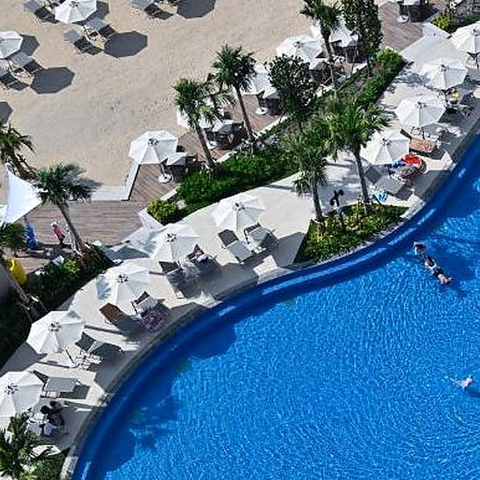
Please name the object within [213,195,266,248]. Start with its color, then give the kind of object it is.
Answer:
white umbrella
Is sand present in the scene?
Yes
